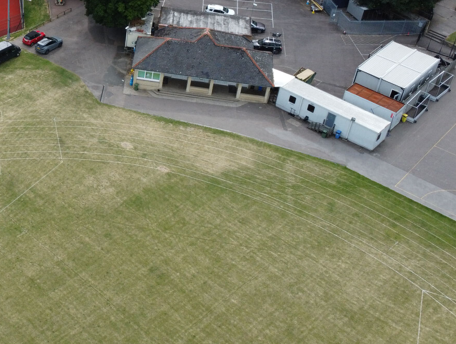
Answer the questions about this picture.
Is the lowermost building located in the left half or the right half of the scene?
right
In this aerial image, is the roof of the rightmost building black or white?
white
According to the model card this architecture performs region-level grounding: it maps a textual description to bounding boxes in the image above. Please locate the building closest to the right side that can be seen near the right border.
[354,40,445,109]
